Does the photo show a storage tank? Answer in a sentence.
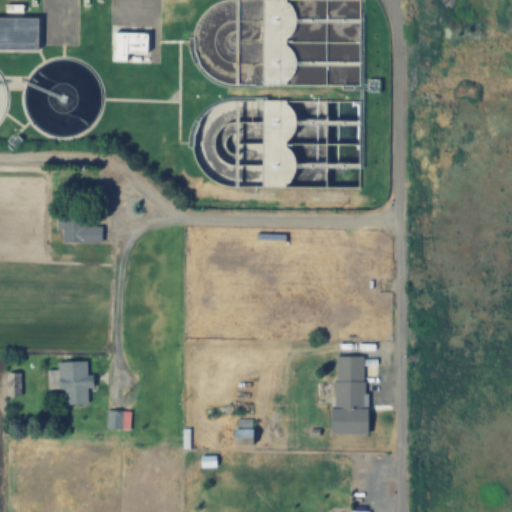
Yes, a storage tank can be made out from above.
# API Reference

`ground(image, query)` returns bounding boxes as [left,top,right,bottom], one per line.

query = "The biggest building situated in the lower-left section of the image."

[58,362,94,406]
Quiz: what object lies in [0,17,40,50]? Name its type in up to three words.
building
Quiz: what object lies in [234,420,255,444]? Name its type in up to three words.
barn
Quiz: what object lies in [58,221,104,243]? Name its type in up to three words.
house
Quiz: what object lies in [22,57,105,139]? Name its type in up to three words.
storage tank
